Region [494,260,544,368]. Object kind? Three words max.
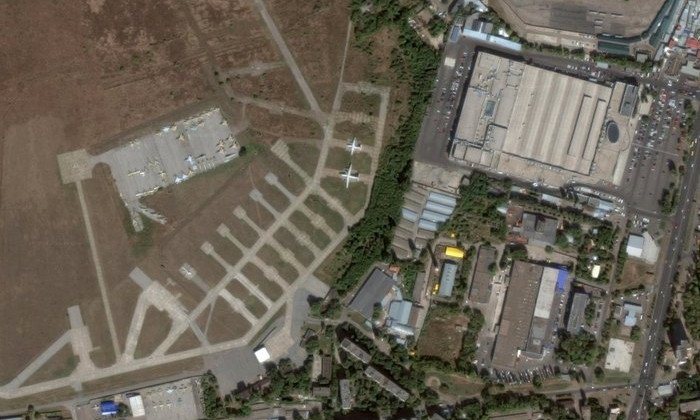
building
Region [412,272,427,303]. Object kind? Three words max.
shed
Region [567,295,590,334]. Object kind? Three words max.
building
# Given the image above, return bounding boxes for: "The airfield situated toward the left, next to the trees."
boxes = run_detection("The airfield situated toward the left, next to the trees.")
[0,0,392,420]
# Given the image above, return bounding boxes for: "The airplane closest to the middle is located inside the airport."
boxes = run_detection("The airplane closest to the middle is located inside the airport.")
[339,165,358,187]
